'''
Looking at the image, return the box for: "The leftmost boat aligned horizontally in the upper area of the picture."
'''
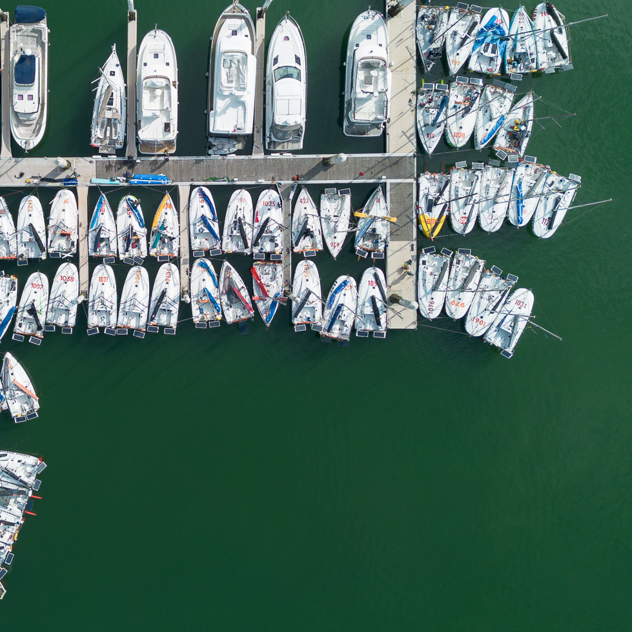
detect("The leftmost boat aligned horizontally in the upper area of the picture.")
[201,137,238,153]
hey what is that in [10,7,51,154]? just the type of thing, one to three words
boat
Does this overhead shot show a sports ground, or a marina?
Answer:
marina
